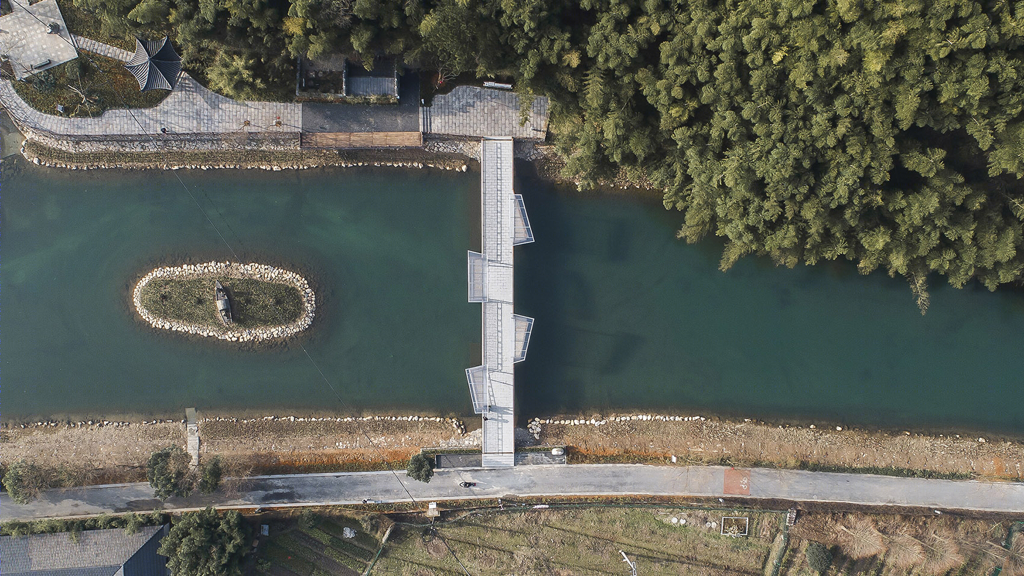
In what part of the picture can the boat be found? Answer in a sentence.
The boat is in the left part of the image.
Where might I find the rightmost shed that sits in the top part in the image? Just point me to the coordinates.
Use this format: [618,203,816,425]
[344,53,399,100]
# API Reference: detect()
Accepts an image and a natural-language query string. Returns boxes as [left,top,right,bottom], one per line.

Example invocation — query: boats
[213,280,233,328]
